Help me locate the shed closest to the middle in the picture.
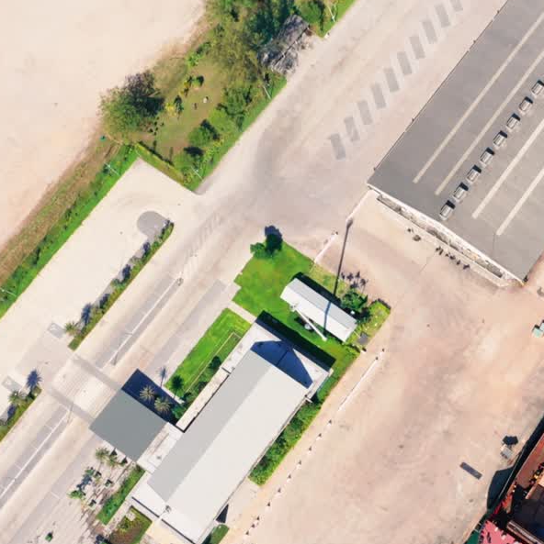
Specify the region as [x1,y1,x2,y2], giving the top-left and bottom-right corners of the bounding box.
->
[281,279,359,341]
